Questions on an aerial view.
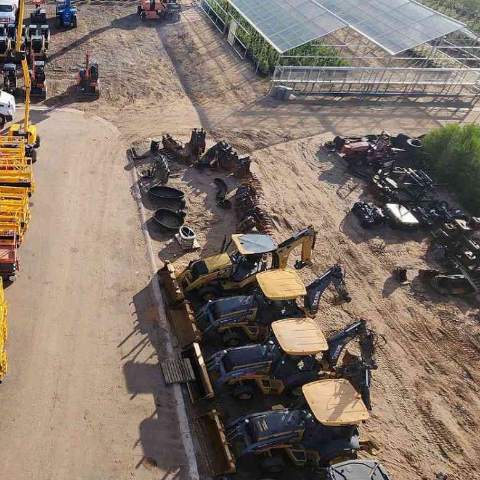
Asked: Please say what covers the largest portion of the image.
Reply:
paved ground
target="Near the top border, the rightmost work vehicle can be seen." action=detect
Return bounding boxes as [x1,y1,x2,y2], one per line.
[162,0,181,21]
